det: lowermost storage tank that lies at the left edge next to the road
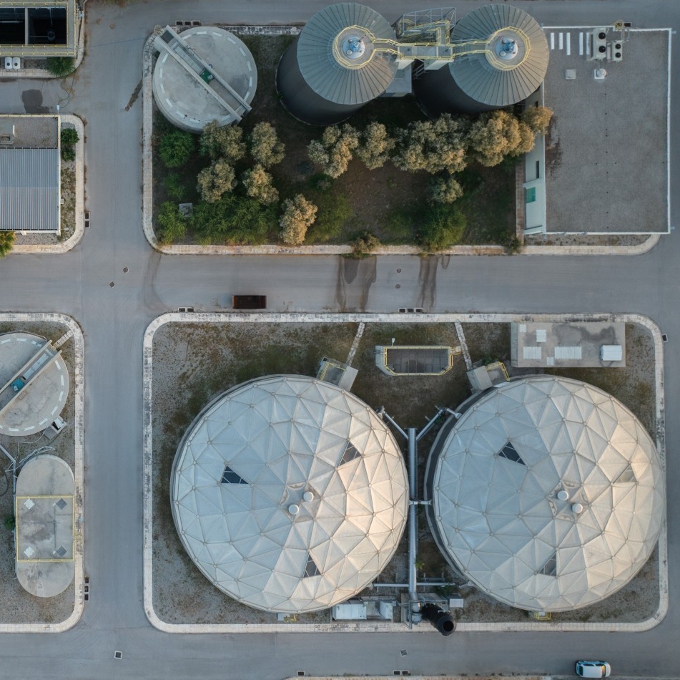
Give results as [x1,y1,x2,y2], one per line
[17,455,75,597]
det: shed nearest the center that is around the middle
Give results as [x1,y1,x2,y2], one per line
[316,358,358,392]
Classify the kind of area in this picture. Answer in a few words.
industrial area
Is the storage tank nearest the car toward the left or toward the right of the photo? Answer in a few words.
right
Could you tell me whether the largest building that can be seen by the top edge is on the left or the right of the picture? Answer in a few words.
right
